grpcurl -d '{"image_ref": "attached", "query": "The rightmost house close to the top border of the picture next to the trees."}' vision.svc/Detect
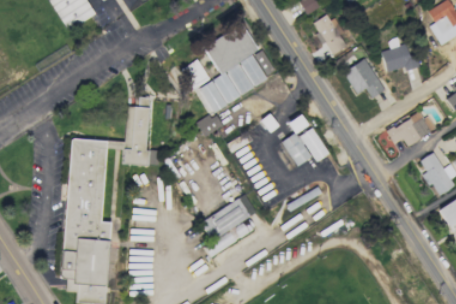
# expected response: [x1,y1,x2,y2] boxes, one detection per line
[430,0,456,46]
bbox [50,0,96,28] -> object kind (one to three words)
building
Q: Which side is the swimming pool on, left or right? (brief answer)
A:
right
